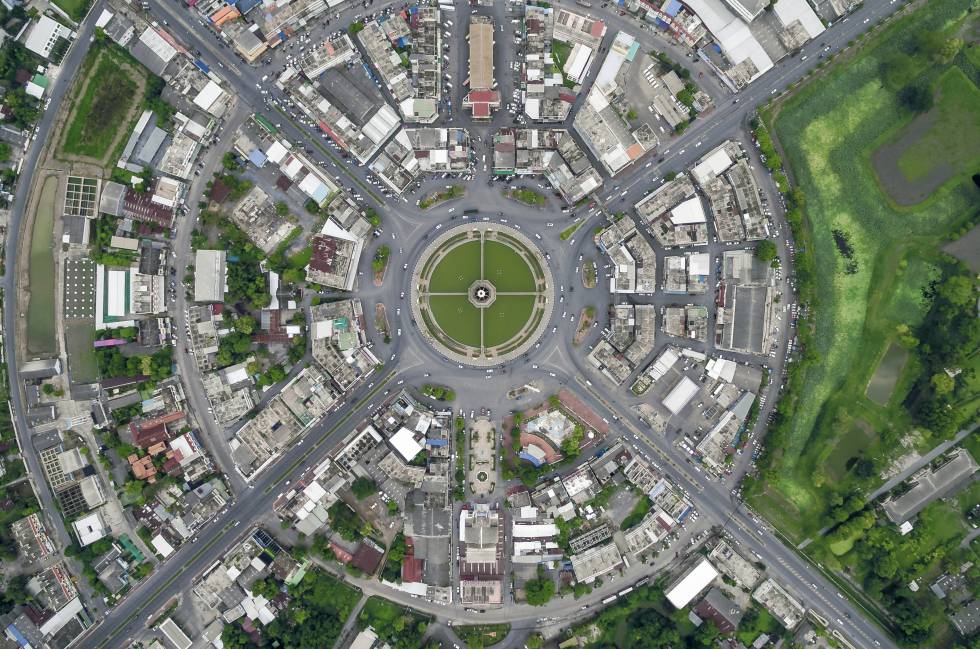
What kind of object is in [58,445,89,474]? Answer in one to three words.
building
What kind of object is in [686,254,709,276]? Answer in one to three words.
shed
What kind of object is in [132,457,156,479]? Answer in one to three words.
house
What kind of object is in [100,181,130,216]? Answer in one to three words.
hangar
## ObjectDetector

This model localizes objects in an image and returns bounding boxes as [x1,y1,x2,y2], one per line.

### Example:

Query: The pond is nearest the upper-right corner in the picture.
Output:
[875,110,952,204]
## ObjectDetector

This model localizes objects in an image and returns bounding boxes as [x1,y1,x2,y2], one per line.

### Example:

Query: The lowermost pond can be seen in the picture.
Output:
[823,420,879,483]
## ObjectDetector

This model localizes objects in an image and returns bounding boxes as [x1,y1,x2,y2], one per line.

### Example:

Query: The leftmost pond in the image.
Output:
[65,317,101,385]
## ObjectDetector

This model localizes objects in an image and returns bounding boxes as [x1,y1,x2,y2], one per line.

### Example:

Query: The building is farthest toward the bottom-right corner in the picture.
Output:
[949,598,980,636]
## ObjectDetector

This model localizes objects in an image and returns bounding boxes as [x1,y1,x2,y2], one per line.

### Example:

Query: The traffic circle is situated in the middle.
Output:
[411,222,553,366]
